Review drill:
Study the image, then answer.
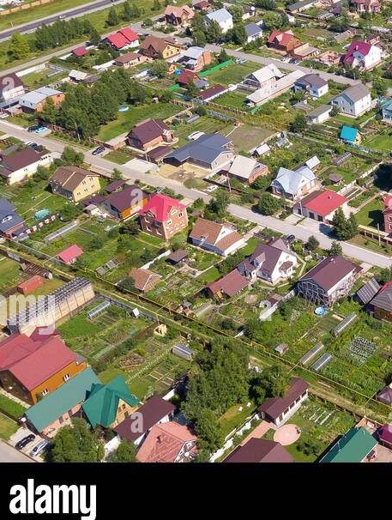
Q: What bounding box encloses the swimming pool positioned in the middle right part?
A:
[311,307,330,320]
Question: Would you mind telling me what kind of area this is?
residential area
